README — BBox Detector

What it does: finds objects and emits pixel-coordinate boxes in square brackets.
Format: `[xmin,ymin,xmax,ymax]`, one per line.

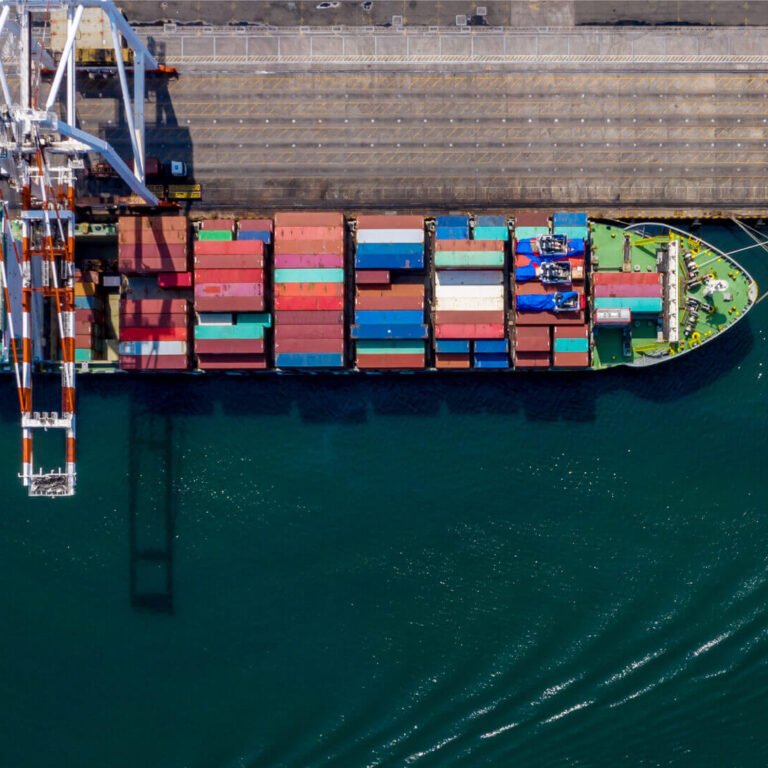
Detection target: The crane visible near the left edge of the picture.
[0,0,182,501]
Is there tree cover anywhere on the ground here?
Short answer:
No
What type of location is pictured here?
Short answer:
port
